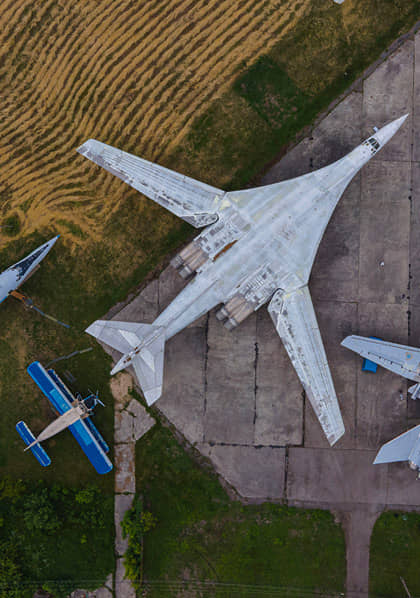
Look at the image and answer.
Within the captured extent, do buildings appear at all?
No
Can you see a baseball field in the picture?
No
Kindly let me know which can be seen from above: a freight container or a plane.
plane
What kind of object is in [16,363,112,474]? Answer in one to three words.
airplane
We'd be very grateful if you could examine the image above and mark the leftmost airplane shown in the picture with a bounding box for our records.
[0,236,60,304]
